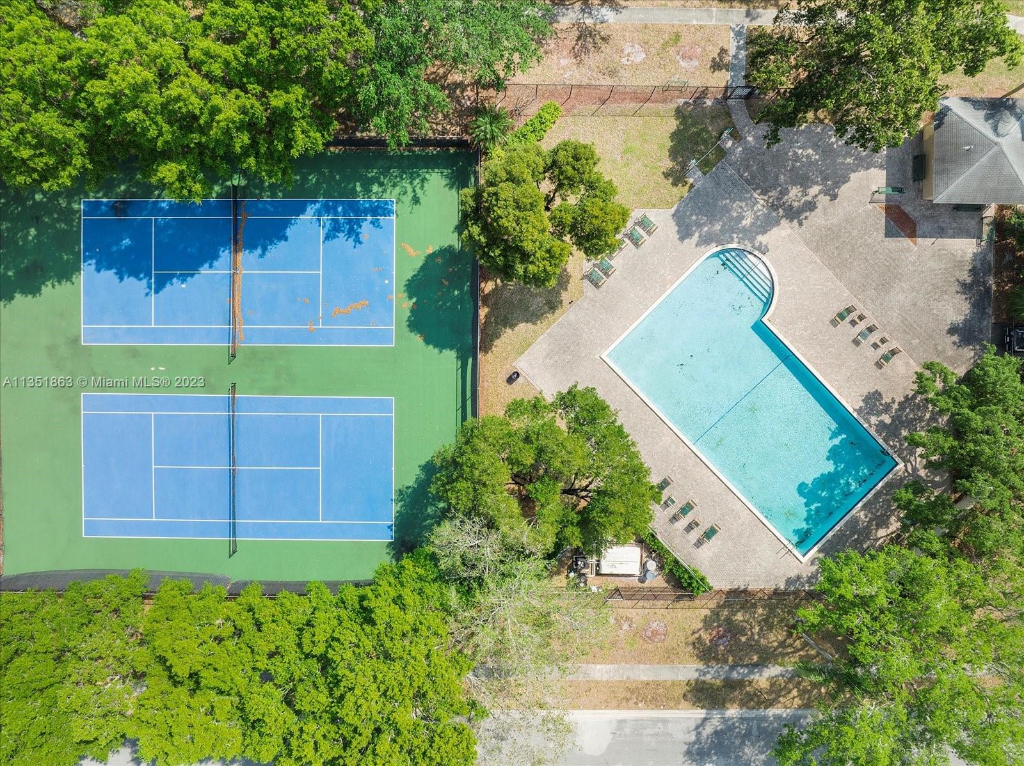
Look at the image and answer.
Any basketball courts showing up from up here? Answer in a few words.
No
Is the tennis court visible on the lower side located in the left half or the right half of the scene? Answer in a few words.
left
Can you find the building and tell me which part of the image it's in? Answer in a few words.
top right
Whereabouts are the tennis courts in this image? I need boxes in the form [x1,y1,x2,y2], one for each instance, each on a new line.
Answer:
[81,393,395,542]
[81,199,396,347]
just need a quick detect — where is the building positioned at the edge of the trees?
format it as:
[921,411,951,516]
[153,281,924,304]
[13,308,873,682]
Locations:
[923,98,1024,205]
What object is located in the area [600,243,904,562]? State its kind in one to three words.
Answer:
swimming pool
